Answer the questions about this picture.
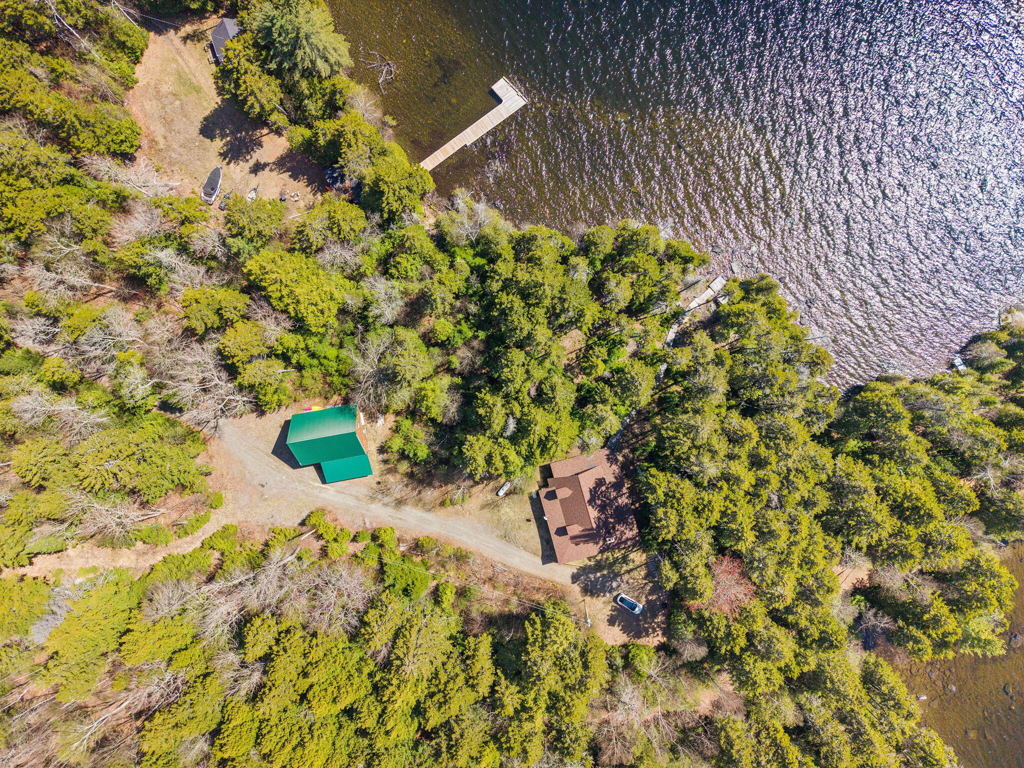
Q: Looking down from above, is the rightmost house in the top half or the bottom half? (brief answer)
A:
bottom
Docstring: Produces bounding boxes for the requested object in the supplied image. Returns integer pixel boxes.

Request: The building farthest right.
[538,446,640,564]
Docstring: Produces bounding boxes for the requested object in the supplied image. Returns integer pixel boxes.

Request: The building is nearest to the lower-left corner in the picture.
[285,402,373,483]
